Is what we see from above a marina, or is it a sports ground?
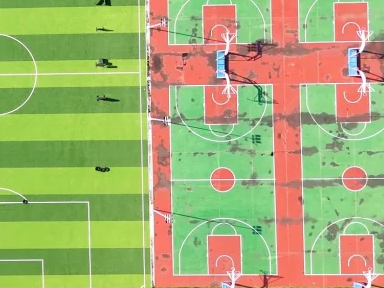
sports ground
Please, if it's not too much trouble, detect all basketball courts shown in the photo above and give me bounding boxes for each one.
[296,80,384,276]
[296,0,384,44]
[168,0,275,46]
[169,82,279,277]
